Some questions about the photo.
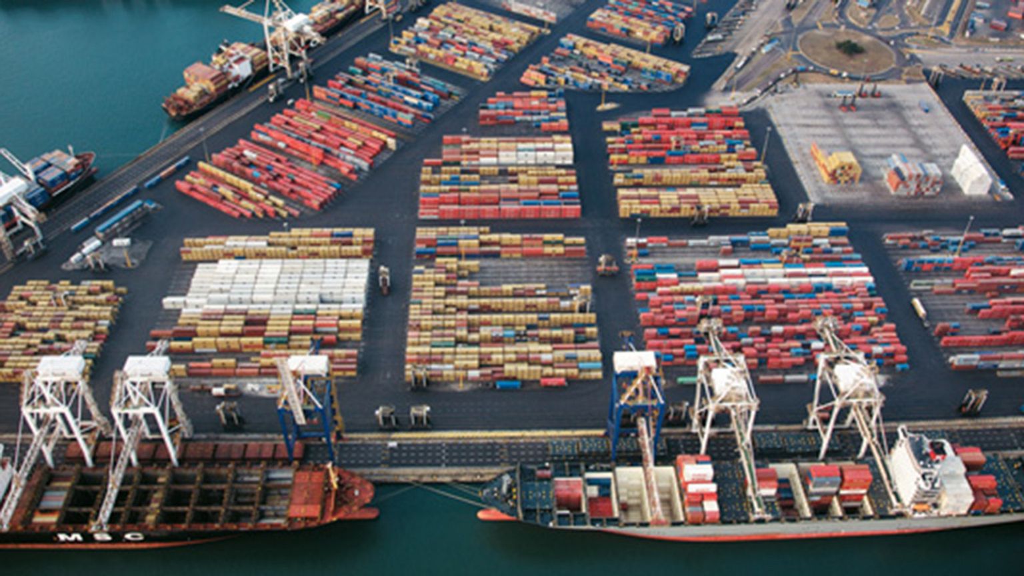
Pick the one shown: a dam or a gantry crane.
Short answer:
gantry crane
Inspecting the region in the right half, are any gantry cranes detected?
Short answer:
Yes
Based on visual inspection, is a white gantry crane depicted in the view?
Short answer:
Yes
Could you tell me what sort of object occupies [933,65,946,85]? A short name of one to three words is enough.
vehicle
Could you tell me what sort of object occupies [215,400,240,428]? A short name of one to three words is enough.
work vehicle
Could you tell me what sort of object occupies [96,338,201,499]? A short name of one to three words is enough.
container crane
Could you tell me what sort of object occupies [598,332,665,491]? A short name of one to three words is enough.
container crane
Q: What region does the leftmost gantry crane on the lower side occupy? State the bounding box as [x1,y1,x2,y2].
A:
[0,339,117,500]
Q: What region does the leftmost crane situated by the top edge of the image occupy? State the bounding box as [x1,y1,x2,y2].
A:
[226,0,332,86]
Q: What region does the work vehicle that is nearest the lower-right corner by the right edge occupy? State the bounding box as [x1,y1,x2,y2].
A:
[968,386,989,418]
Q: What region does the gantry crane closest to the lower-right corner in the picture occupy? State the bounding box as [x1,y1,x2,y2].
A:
[785,312,896,485]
